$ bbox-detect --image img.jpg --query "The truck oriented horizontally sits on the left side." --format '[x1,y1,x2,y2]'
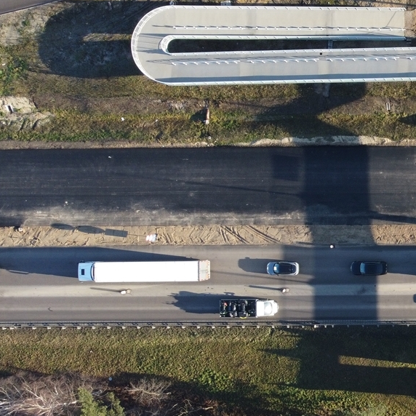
[76,259,211,283]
